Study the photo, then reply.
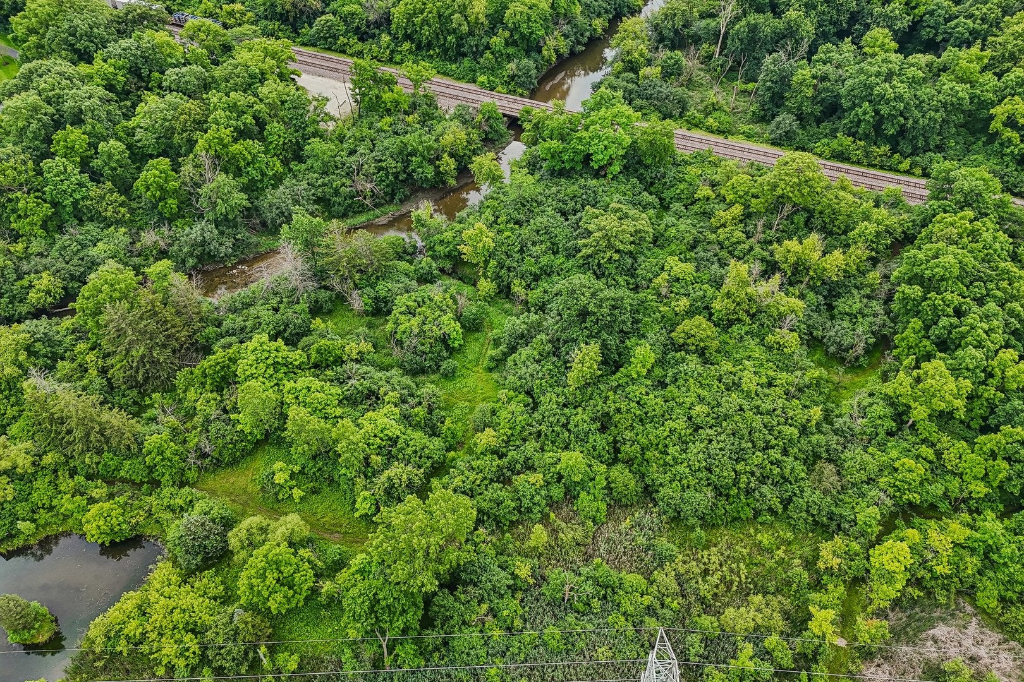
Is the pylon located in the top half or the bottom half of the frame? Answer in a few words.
bottom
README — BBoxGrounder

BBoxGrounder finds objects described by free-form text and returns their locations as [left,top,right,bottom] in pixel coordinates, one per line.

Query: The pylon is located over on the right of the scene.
[639,627,683,682]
